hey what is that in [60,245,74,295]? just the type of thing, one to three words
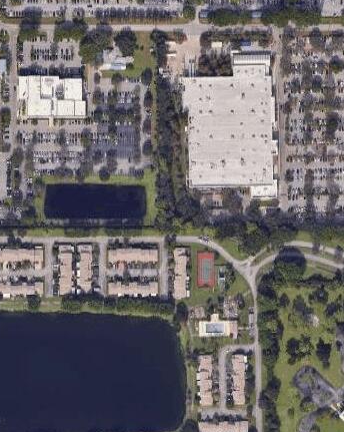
house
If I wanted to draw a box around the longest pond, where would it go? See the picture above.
[43,184,148,220]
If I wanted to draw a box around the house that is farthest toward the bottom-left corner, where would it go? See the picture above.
[0,281,43,298]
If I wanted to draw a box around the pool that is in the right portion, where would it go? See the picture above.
[199,321,231,337]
